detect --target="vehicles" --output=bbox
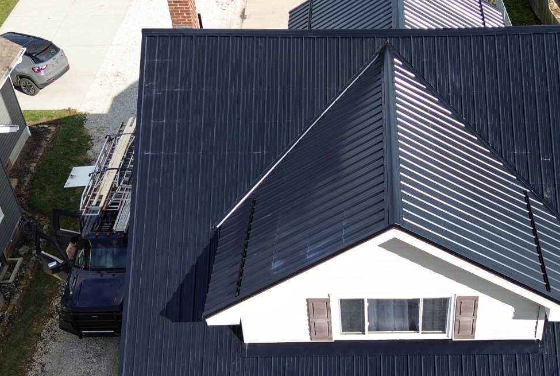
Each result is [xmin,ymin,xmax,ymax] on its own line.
[2,33,74,94]
[43,119,134,328]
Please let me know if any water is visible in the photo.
No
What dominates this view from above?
buildings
